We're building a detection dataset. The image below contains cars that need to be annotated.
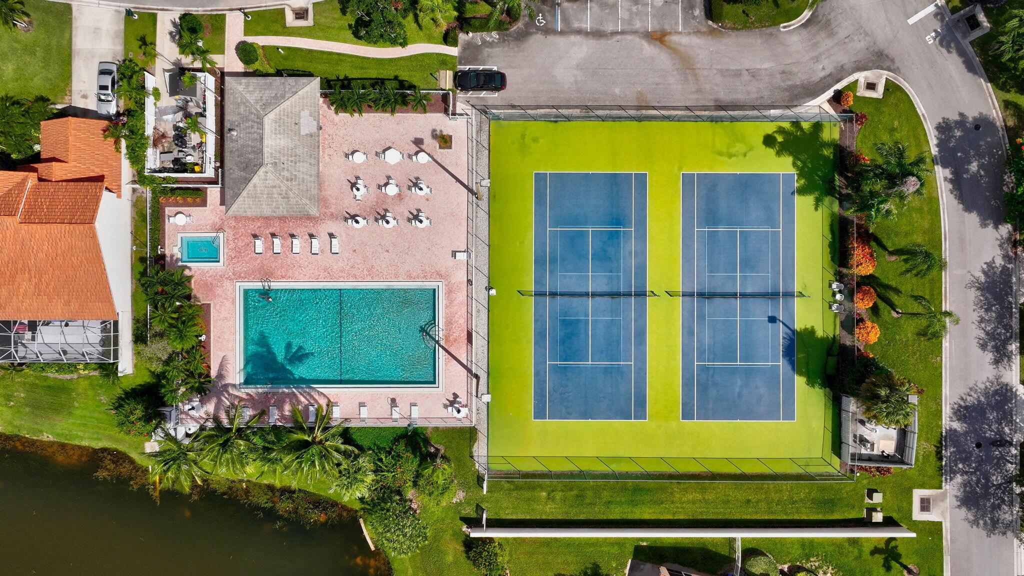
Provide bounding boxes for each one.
[91,62,118,117]
[455,67,507,92]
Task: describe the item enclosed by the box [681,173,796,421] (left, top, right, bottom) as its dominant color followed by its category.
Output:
blue tennis court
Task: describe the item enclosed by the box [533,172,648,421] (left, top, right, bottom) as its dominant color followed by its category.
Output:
blue tennis court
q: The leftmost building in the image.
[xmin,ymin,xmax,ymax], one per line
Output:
[0,116,133,376]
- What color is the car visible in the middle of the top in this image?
black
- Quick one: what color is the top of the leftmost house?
orange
